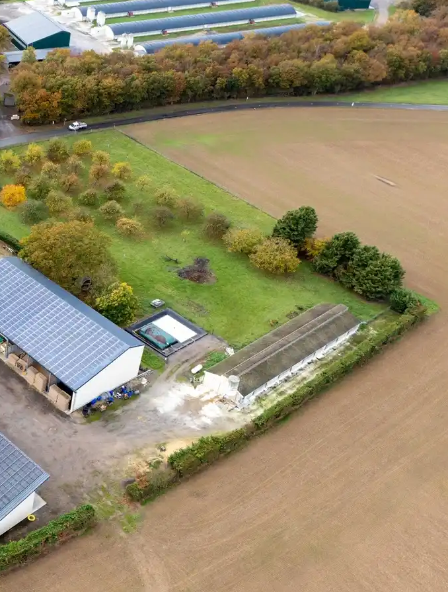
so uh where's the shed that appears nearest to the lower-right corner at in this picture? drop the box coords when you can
[199,303,363,409]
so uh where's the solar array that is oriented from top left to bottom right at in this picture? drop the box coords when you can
[0,258,124,388]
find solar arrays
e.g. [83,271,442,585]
[0,433,45,509]
[0,258,124,388]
